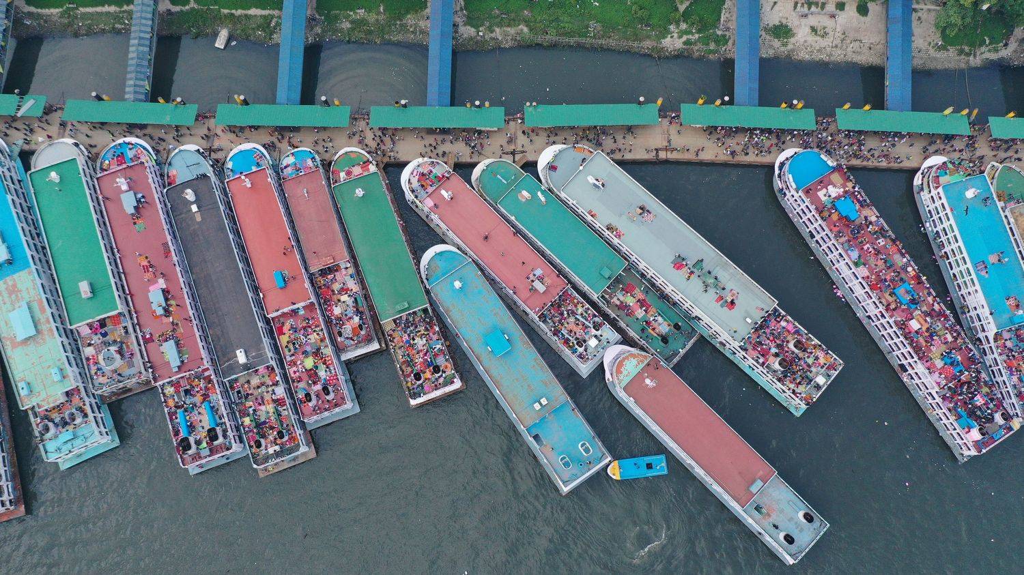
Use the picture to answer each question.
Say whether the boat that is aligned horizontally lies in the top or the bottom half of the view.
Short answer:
bottom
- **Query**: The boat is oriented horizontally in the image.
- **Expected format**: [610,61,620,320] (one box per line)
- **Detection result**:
[607,456,668,478]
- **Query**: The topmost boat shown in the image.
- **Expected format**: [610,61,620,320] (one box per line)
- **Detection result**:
[214,28,228,49]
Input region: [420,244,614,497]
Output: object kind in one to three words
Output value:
ship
